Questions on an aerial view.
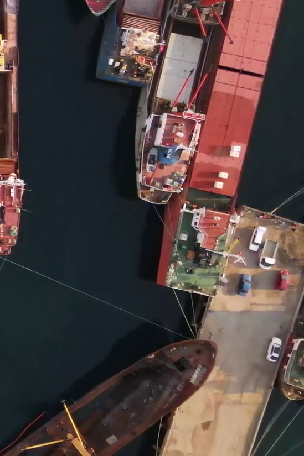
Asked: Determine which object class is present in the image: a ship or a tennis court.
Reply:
ship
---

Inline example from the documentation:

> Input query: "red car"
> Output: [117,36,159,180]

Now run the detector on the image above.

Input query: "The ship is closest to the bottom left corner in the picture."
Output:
[0,341,221,456]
